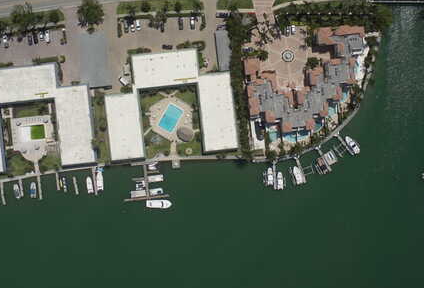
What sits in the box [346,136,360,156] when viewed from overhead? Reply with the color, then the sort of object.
white boat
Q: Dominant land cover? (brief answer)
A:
water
